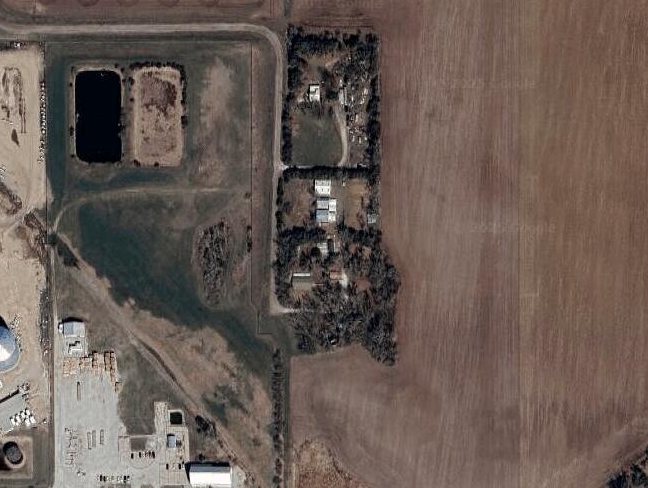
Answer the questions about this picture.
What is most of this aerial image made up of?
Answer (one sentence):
Most of the picture is covered by farmland.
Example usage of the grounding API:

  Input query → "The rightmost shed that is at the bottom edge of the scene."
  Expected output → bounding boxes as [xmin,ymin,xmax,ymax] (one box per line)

[189,465,232,487]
